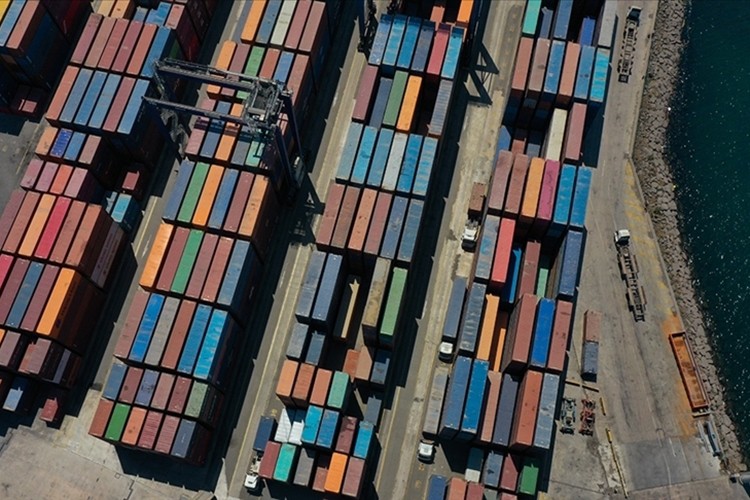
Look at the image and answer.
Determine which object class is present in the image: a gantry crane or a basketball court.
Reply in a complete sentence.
It is a gantry crane that can be seen here.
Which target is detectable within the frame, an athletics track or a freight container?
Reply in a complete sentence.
This aerial view contains a freight container.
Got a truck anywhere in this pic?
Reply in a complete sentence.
Yes, I can see a truck in this picture.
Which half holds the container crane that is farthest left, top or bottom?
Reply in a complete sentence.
The top half of the photo is where the container crane that is farthest left is.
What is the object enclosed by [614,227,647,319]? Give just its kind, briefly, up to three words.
truck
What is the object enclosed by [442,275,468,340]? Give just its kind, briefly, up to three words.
shipping container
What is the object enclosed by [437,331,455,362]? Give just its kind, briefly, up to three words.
vehicle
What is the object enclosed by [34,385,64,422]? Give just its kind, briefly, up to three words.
shipping container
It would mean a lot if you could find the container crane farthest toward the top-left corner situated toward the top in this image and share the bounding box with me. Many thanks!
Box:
[141,59,311,193]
